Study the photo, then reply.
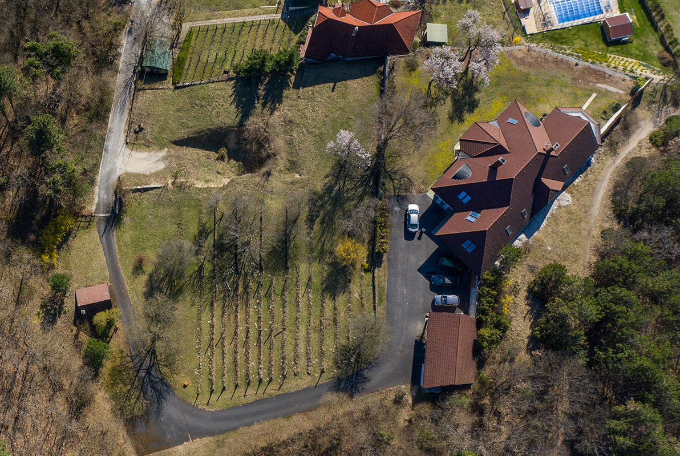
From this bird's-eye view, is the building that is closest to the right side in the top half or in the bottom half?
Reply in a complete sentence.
It is in the top half that the building that is closest to the right side appears.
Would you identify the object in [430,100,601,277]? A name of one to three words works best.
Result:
house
